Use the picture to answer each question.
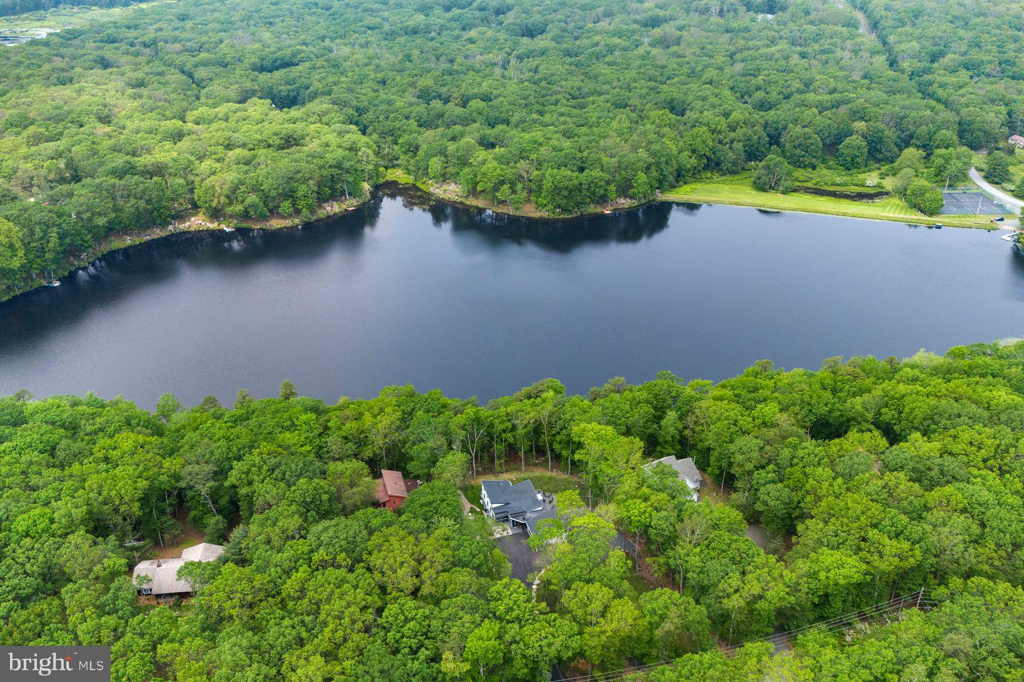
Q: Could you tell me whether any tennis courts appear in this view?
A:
Yes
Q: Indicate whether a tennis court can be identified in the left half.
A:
No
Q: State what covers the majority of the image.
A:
trees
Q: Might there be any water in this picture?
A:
Yes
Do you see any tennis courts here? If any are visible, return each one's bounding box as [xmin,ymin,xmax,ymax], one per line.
[926,185,1015,214]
